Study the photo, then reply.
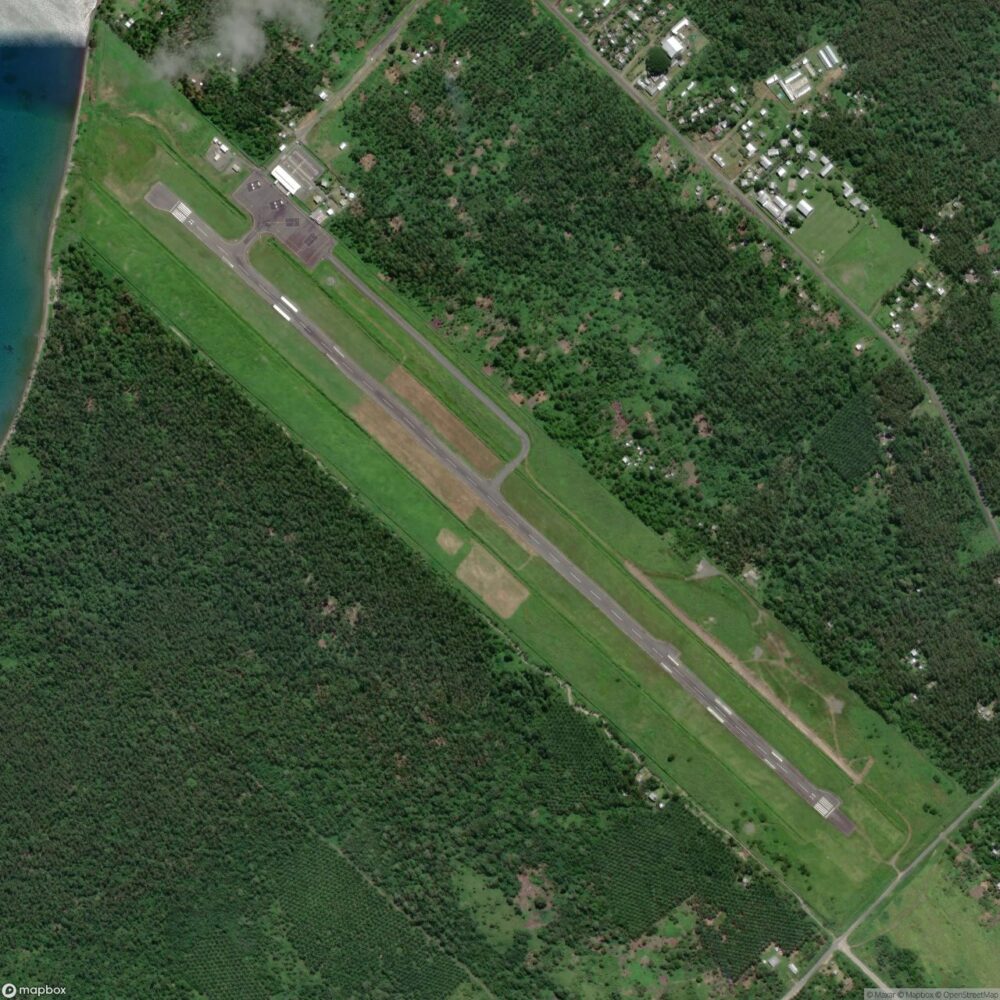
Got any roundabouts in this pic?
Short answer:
No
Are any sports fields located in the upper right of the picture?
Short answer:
Yes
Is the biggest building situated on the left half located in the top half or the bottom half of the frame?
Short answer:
top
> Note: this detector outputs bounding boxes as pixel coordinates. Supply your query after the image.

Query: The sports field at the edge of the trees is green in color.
[801,191,856,266]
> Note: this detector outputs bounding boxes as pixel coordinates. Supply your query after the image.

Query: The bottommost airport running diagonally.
[144,143,856,836]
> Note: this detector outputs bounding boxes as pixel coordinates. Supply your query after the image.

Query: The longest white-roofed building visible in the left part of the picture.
[271,165,301,196]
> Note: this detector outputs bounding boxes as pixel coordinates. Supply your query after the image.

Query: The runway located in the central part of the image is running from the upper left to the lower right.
[144,181,856,836]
